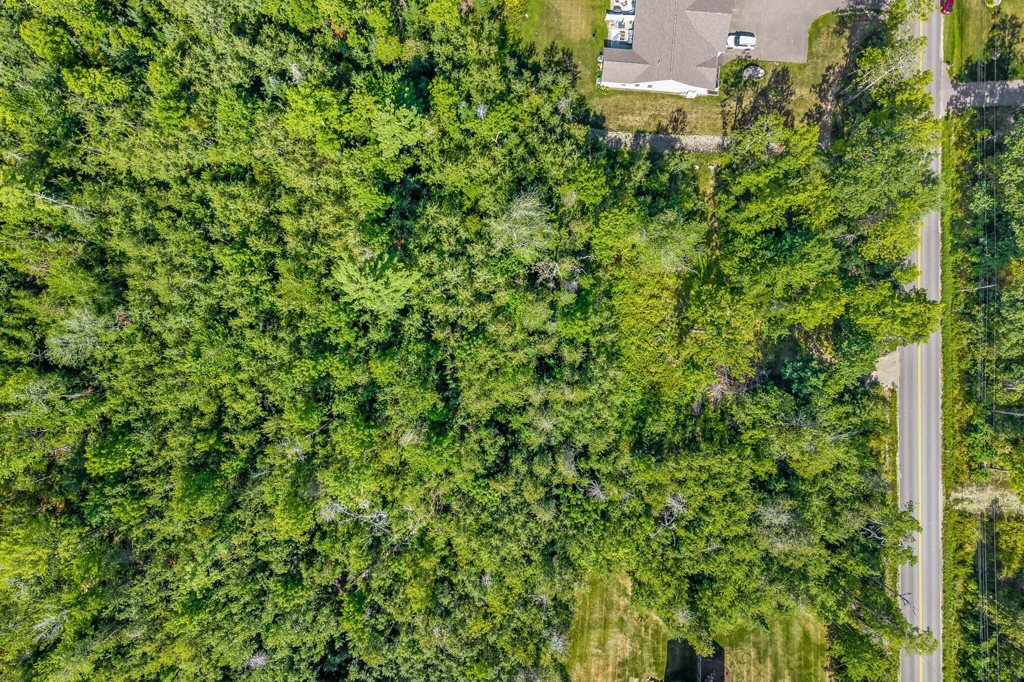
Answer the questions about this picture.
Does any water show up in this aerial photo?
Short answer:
No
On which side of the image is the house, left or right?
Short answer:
right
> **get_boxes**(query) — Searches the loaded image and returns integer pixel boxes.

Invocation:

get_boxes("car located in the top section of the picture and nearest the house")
[726,36,756,52]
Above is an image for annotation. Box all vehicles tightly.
[939,0,953,15]
[726,36,756,52]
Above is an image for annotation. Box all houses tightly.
[601,0,732,97]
